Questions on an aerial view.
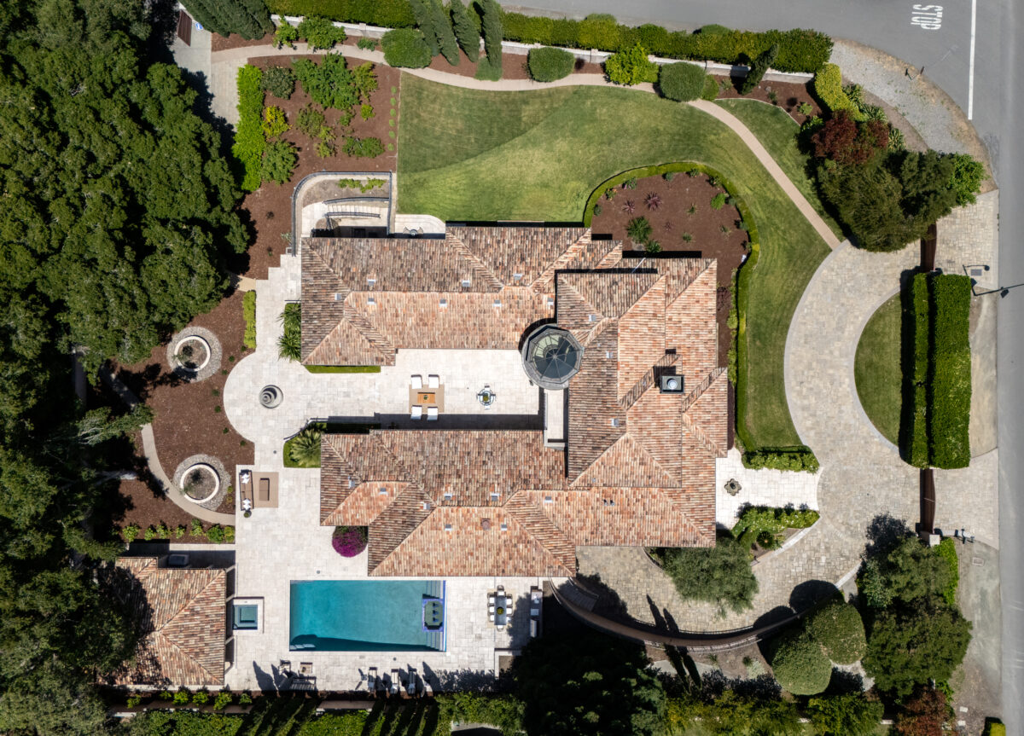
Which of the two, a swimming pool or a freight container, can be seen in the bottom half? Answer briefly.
swimming pool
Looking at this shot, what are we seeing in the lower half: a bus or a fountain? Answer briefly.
fountain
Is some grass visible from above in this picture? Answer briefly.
Yes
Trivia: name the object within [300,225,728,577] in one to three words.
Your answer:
house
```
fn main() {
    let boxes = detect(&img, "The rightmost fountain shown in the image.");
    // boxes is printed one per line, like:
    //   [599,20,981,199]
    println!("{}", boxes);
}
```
[725,479,743,496]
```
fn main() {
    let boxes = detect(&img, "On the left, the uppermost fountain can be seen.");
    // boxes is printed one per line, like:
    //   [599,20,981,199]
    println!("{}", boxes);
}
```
[257,385,283,409]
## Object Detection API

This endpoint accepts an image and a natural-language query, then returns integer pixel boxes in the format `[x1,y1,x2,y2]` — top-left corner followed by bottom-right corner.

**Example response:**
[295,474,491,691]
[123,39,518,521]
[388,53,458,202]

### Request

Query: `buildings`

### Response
[300,225,728,577]
[94,554,238,687]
